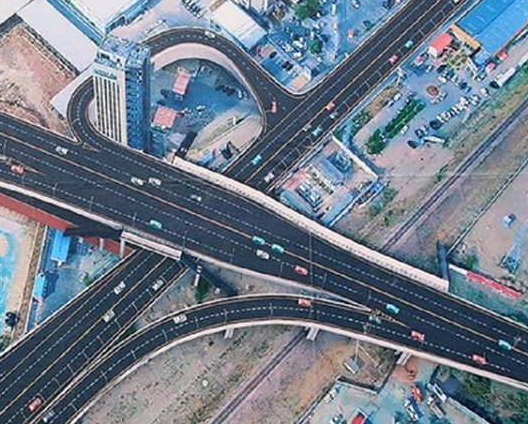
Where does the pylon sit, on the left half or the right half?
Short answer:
right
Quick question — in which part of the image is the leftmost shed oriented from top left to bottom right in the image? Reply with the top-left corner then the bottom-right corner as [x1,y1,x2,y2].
[16,0,98,78]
